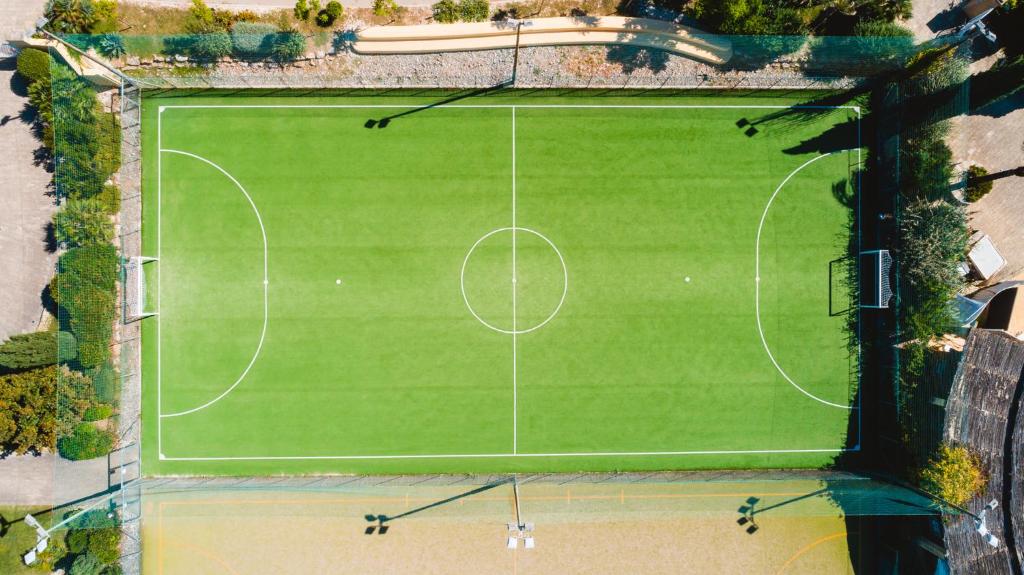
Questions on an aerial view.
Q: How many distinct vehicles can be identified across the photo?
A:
0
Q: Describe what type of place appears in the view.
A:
sports ground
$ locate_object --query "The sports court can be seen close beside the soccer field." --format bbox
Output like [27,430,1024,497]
[141,479,878,575]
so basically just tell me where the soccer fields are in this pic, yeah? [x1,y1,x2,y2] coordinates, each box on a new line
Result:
[141,87,877,475]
